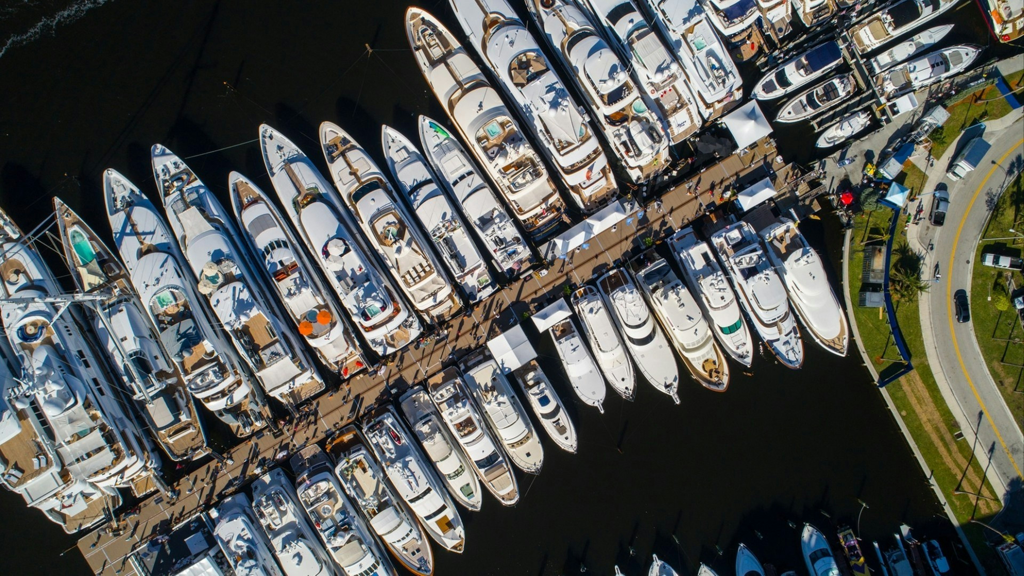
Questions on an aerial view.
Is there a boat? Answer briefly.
Yes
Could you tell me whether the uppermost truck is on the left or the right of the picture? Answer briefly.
right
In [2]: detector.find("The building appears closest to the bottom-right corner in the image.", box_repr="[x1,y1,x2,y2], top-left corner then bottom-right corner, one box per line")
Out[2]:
[853,292,883,307]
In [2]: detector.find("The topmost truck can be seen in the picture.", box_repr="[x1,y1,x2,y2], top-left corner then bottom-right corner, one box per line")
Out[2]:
[948,135,1002,187]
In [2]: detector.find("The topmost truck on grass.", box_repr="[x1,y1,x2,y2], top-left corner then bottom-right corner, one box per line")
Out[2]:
[979,253,1024,275]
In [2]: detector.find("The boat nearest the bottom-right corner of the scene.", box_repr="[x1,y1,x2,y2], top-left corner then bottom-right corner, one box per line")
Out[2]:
[918,536,951,576]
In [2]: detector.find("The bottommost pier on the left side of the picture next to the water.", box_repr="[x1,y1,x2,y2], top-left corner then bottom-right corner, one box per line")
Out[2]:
[95,550,147,576]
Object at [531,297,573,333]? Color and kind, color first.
white tent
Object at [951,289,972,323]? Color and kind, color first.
black car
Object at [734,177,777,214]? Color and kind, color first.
white tent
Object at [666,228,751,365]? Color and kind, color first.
white boat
